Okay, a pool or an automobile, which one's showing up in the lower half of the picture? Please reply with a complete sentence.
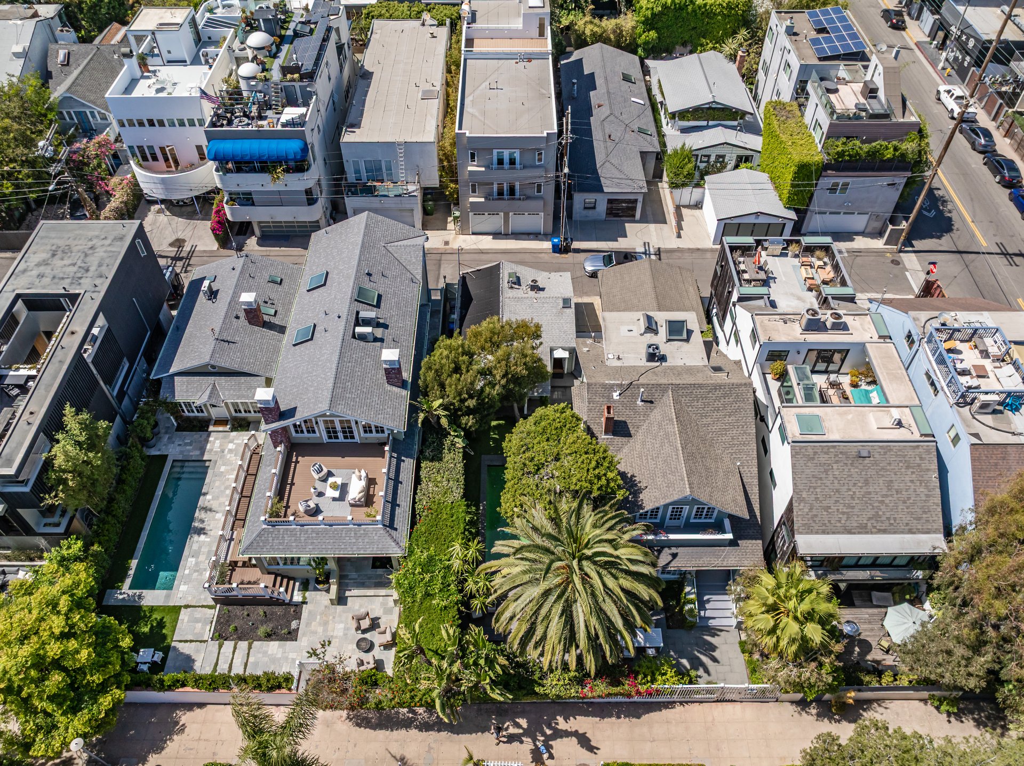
Looking in the lower half of the picture, you will find a pool.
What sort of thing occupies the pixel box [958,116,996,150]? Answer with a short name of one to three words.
car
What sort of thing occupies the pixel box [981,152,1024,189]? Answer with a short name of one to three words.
car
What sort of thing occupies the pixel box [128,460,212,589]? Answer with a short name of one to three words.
swimming pool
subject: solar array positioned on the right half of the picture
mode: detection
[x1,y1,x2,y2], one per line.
[803,9,879,51]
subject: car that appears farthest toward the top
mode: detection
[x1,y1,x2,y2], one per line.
[878,6,909,30]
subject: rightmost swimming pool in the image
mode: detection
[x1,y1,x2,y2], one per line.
[479,468,544,582]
